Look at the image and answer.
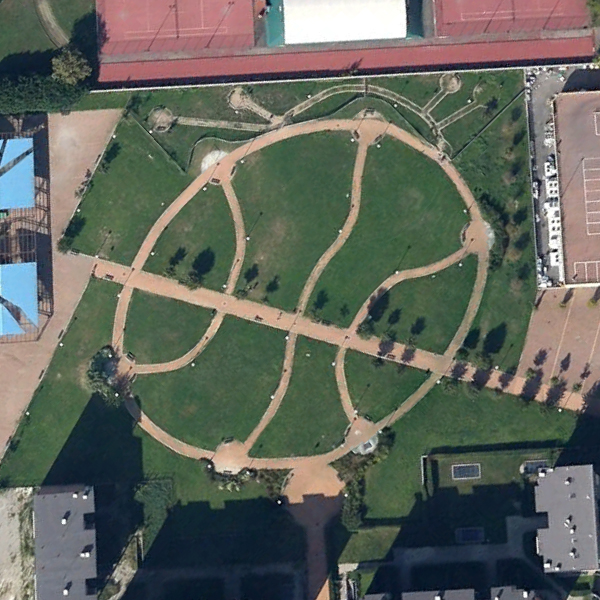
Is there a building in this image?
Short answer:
Yes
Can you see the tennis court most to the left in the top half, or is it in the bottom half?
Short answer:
top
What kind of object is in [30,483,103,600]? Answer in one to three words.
building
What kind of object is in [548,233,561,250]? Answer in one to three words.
vehicle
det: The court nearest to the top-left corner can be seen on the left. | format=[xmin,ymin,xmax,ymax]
[99,0,254,52]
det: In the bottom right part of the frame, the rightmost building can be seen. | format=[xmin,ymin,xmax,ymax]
[532,457,598,572]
